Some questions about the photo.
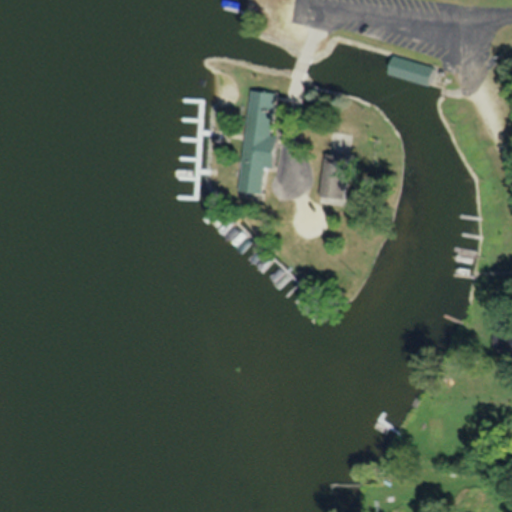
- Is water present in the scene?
Yes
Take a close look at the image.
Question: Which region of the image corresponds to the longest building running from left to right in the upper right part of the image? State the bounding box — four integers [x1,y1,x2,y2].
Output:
[387,56,434,86]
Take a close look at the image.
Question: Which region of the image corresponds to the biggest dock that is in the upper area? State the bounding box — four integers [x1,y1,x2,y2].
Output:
[176,98,210,202]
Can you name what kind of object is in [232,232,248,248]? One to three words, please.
boat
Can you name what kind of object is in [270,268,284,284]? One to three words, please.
boat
